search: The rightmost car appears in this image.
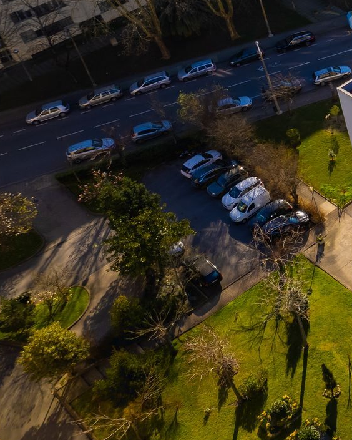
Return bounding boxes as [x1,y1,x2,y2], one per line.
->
[312,64,352,85]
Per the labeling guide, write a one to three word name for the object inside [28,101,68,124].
car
